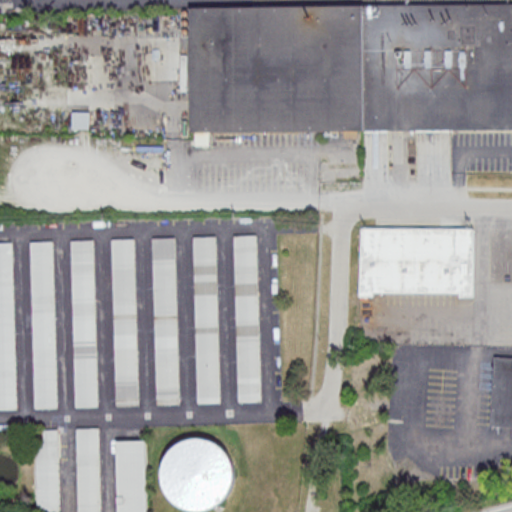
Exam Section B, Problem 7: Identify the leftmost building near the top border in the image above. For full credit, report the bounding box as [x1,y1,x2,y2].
[188,7,363,132]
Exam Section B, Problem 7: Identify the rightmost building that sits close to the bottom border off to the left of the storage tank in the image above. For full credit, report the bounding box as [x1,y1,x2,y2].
[111,438,148,512]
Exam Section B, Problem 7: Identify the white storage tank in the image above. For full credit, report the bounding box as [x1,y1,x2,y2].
[158,436,234,512]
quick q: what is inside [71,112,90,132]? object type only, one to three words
shed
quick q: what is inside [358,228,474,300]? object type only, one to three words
building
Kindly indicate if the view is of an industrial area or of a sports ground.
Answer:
industrial area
